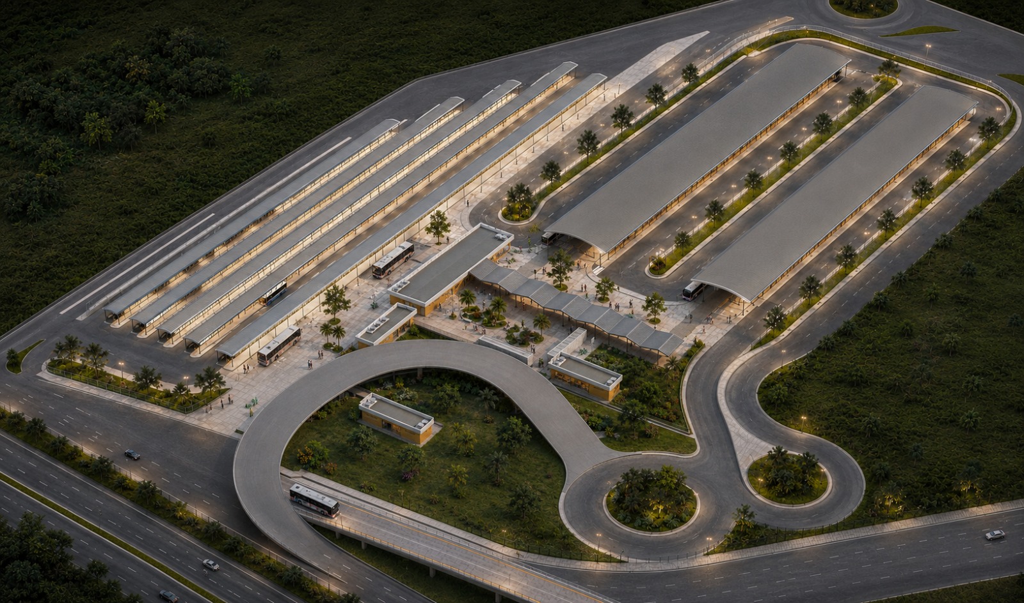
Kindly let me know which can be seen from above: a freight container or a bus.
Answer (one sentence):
Looking from above, you can make out a bus.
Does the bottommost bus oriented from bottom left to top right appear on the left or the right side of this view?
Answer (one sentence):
It is on the left.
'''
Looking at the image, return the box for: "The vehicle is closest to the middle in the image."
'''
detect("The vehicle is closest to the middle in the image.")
[540,231,562,245]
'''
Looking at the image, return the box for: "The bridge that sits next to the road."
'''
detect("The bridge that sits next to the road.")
[281,470,625,603]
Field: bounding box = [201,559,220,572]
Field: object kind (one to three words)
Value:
vehicle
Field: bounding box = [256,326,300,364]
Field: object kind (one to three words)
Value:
bus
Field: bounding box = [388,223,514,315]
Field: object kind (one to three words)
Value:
building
